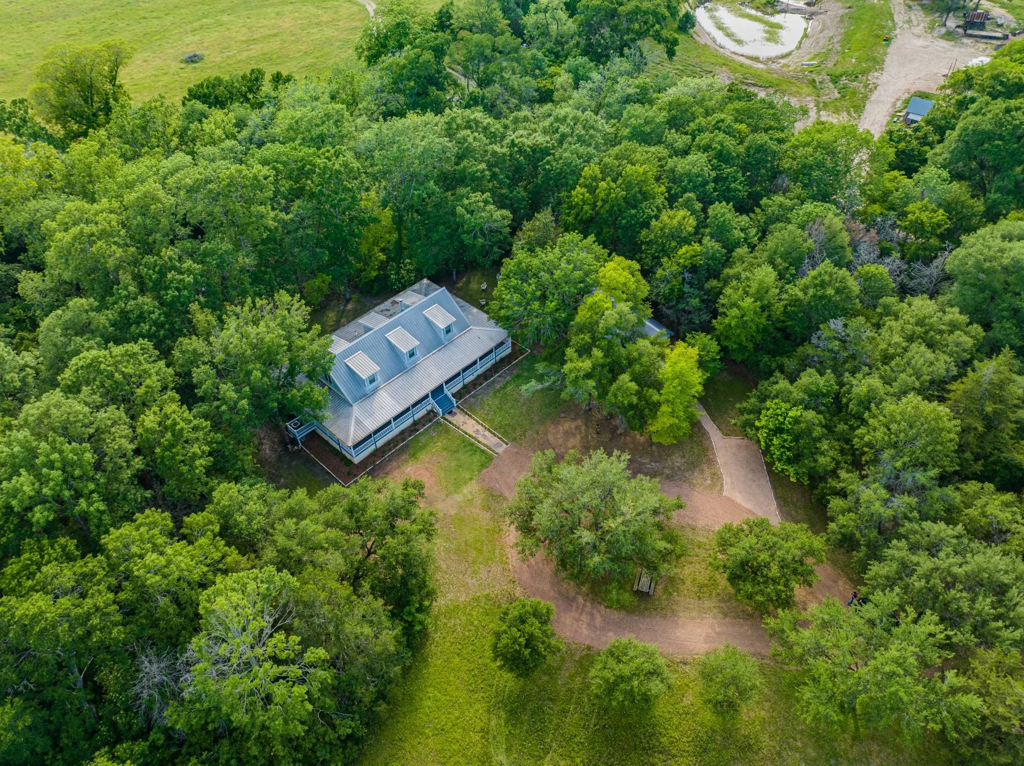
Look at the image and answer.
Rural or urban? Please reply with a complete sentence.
The area shown here is rural.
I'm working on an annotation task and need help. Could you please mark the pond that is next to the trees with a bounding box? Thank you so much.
[697,0,807,57]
